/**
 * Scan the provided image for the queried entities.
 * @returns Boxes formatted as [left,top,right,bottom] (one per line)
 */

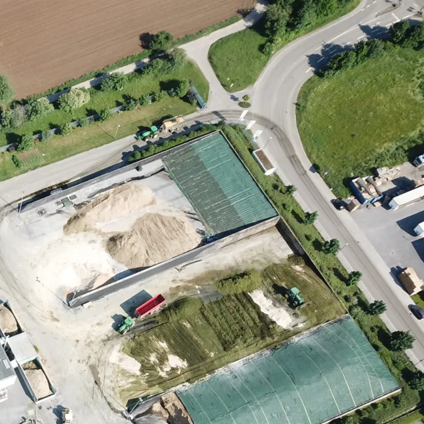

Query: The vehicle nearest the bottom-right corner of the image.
[409,303,424,319]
